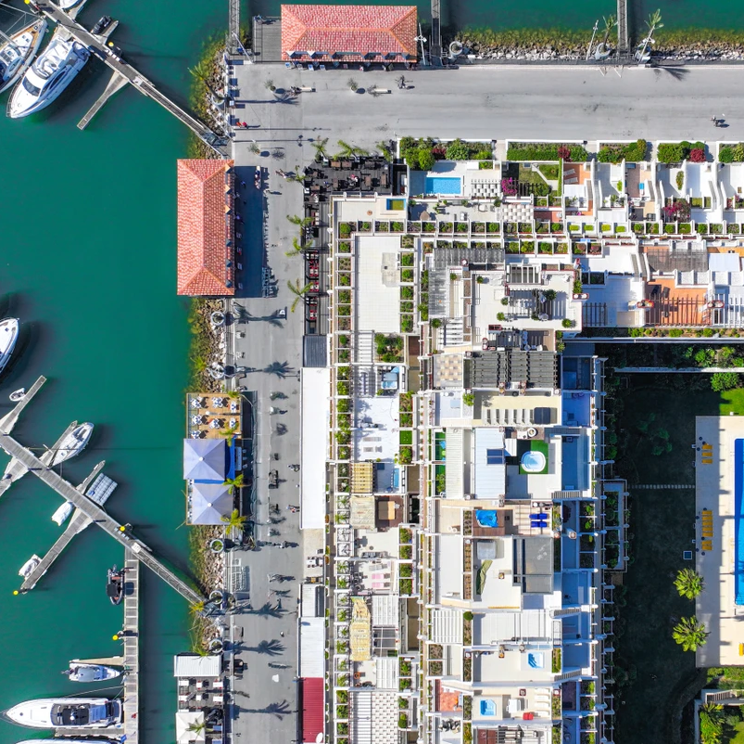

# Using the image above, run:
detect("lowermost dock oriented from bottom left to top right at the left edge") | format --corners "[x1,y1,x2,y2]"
[21,508,93,593]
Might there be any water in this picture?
Yes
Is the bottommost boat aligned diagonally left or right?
left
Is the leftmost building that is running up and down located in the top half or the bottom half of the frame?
top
